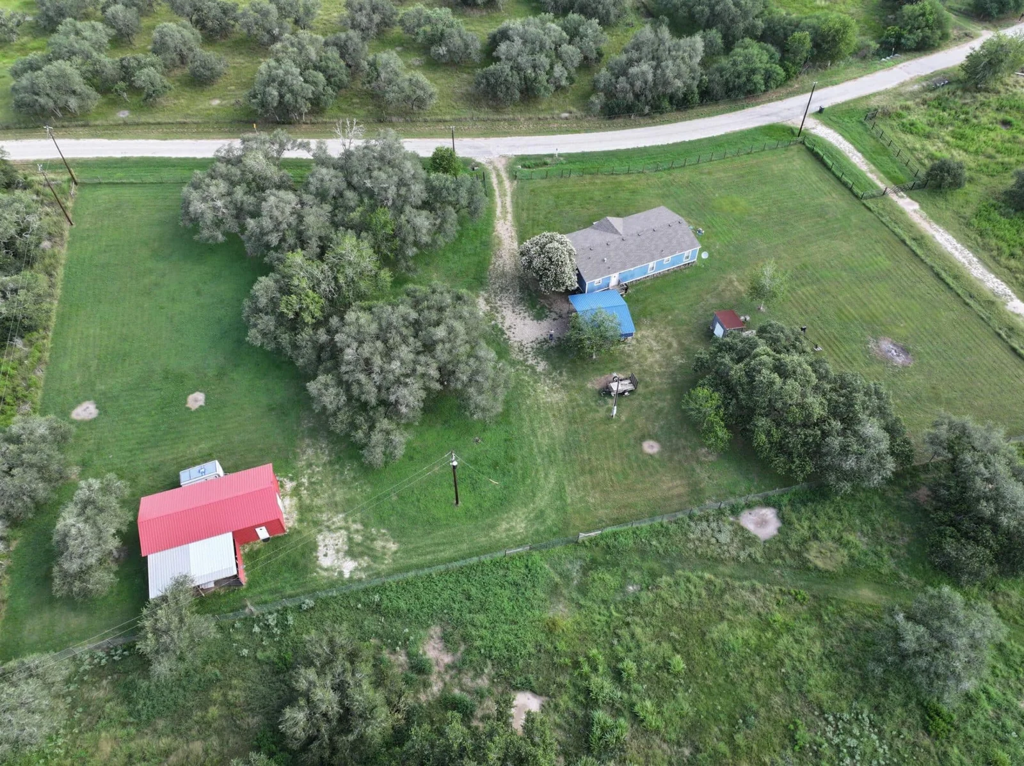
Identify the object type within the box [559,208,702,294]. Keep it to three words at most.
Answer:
house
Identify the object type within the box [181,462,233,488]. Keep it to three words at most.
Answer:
trailer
